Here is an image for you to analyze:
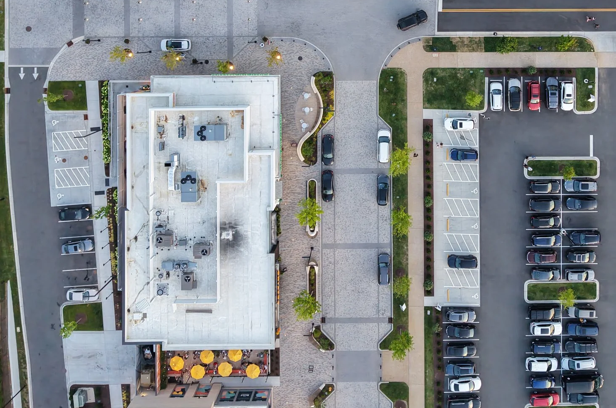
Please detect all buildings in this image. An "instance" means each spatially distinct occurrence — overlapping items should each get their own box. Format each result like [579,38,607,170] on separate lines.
[128,385,274,408]
[122,73,285,351]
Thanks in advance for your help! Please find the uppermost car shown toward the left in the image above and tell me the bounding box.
[161,38,192,52]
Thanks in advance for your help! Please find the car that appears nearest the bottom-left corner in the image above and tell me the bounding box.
[66,287,100,303]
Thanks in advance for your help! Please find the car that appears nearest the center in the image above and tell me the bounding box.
[320,170,335,202]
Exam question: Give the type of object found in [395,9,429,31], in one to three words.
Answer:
car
